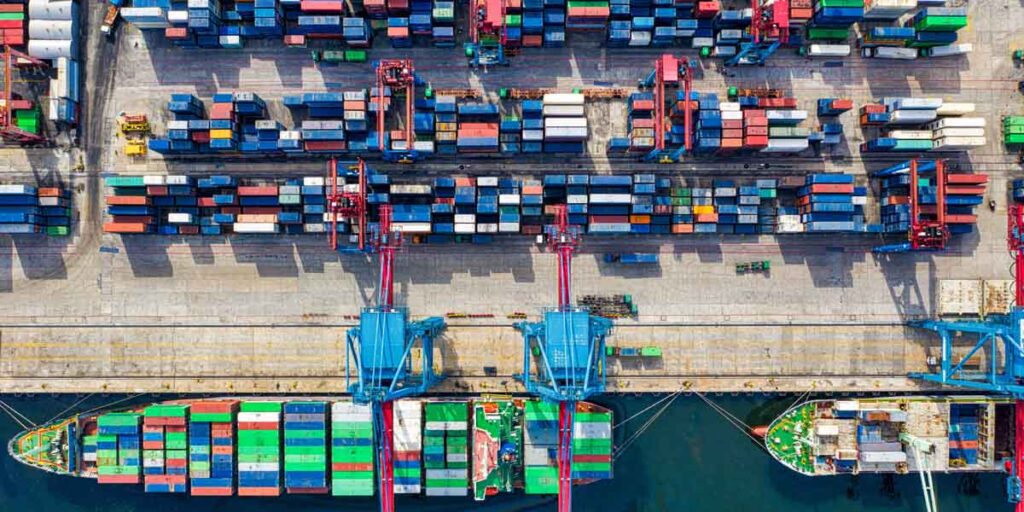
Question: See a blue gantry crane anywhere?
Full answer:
Yes, there's a blue gantry crane here.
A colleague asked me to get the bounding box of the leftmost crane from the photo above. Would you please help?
[0,45,55,145]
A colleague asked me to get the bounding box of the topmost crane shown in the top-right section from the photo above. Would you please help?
[727,0,795,67]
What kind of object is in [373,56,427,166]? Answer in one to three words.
crane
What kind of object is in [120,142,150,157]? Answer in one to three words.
work vehicle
